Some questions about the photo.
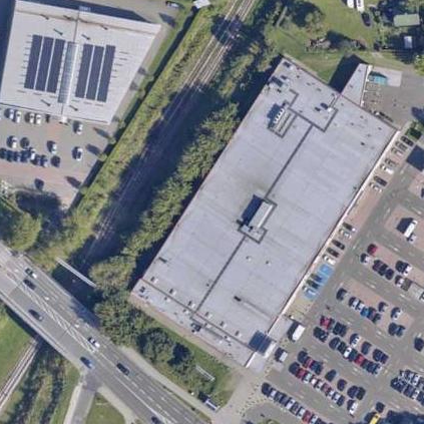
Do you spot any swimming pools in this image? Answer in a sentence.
No, I can't see a single swimming pool in this photo.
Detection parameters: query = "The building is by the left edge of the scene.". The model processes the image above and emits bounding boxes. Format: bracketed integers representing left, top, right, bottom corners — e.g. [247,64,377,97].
[0,0,160,124]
